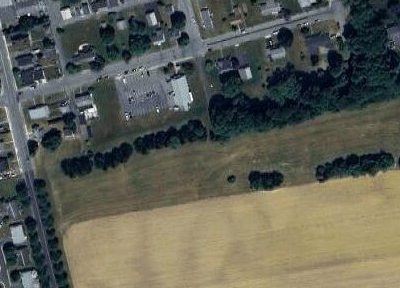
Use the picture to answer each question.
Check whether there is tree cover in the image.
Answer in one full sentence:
Yes, there's tree cover in this view.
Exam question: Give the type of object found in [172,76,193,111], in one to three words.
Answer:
building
